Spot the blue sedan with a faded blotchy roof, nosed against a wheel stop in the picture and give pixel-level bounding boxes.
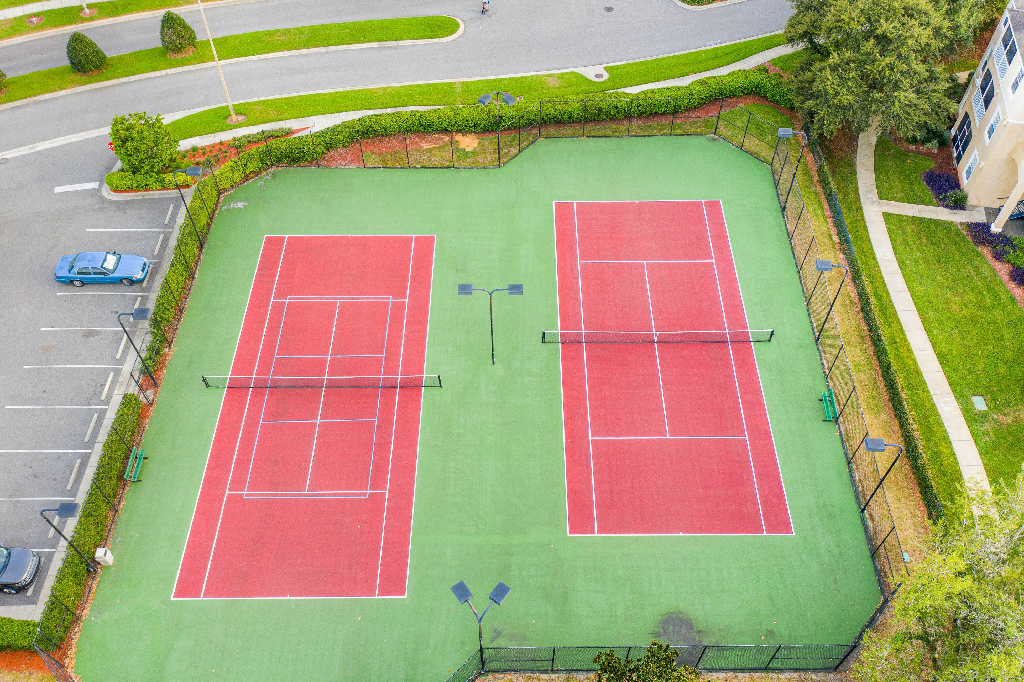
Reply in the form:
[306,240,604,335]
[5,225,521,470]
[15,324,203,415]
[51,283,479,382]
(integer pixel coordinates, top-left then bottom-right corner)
[52,249,150,287]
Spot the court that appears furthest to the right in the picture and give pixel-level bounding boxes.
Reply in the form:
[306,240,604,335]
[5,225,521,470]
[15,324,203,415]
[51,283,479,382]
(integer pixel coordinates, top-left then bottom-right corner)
[554,199,794,536]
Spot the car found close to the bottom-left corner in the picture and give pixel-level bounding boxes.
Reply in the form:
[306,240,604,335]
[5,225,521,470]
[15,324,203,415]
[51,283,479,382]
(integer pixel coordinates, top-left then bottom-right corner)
[0,542,40,596]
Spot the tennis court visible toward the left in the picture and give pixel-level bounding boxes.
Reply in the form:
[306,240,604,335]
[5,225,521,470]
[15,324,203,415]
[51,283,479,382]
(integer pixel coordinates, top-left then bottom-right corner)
[172,235,436,598]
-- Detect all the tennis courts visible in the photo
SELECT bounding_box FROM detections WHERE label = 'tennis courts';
[172,235,436,598]
[554,199,794,536]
